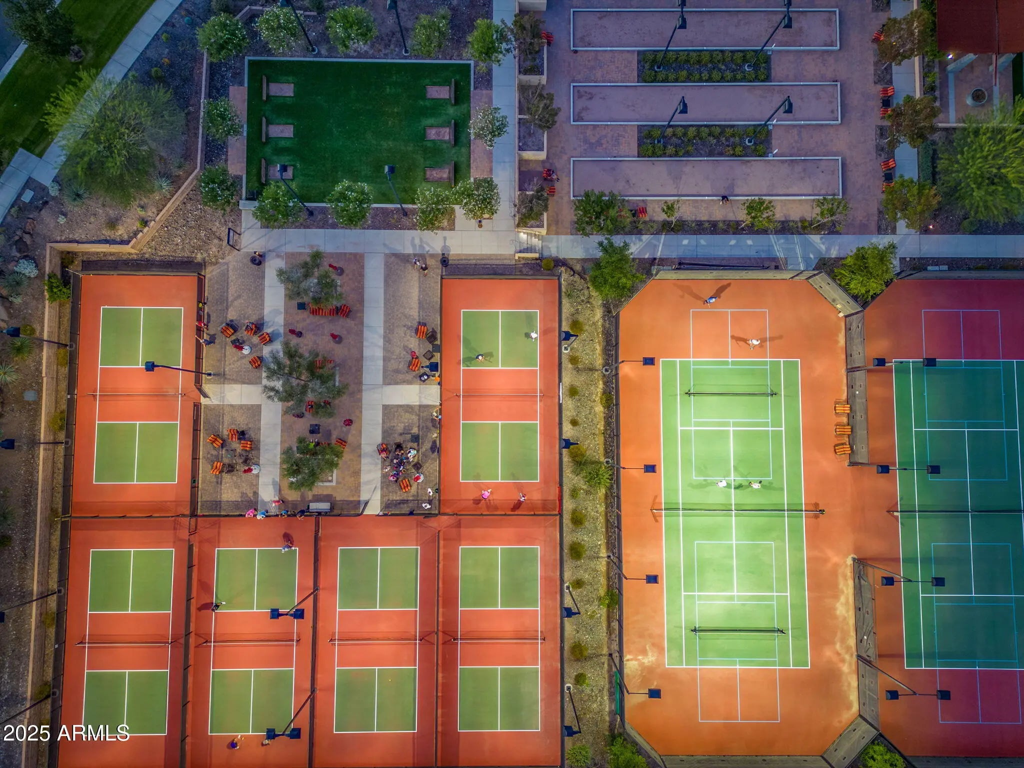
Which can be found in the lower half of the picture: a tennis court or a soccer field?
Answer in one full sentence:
Visible in the lower half of the picture is a tennis court.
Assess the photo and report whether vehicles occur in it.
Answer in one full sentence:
No, the frame has no vehicle in it.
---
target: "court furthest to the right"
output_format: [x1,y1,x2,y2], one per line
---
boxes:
[846,280,1024,756]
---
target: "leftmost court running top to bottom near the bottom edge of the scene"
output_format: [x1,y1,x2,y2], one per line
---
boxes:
[59,516,192,768]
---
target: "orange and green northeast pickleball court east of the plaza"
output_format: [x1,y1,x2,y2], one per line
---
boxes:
[441,278,560,515]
